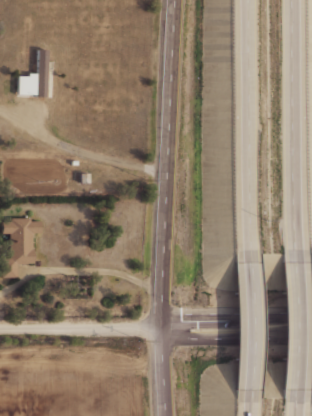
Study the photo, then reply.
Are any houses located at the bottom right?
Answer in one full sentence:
No, no house is visible at the bottom right.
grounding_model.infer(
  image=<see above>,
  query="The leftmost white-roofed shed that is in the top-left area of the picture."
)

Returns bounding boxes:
[18,74,40,97]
